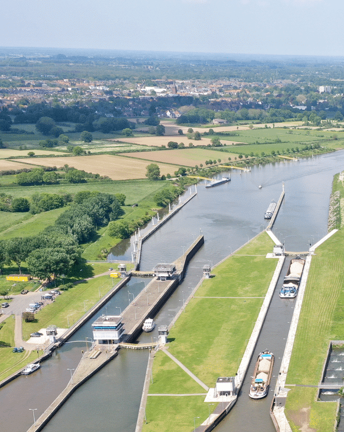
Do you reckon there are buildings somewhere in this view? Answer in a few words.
Yes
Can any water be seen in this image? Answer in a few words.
Yes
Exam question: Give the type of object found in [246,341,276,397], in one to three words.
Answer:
ship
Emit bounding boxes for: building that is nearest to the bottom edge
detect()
[212,376,234,396]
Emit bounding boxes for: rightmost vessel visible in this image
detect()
[278,255,308,297]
